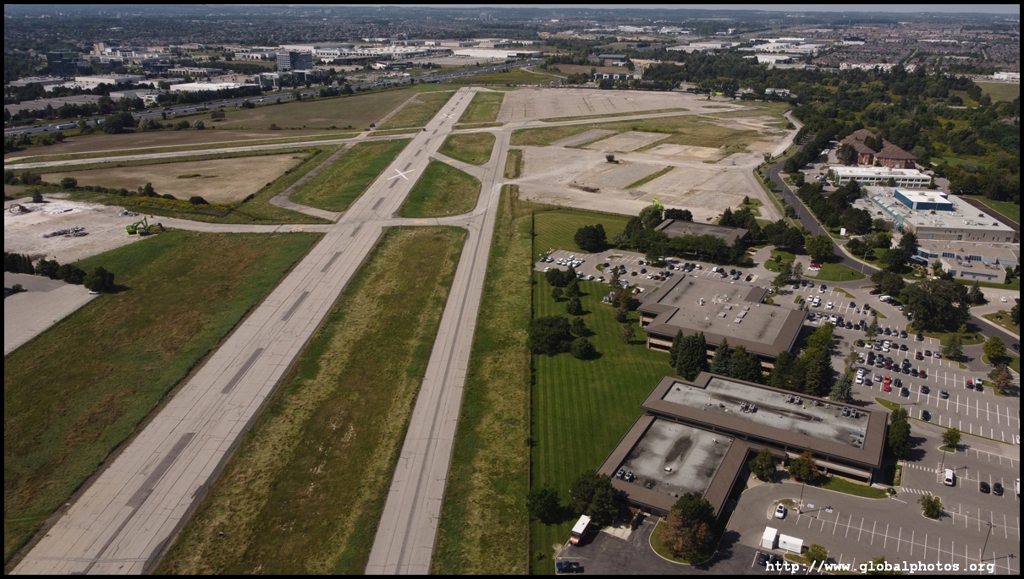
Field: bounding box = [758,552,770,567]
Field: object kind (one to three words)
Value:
vehicle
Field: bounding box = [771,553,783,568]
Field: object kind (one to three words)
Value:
vehicle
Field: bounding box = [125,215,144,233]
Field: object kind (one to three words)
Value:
work vehicle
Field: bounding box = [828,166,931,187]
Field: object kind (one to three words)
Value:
building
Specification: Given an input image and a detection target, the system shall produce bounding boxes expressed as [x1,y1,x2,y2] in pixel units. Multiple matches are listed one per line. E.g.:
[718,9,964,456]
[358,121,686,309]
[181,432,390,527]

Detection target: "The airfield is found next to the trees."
[0,87,793,579]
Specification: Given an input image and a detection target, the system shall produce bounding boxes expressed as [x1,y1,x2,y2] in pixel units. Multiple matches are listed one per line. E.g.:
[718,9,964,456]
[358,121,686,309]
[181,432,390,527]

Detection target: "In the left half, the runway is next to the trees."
[6,87,480,579]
